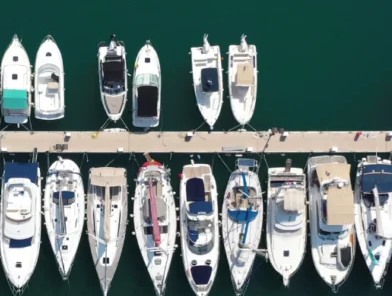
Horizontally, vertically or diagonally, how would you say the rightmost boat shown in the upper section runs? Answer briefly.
vertically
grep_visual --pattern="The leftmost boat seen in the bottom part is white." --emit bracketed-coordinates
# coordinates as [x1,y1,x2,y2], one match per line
[0,148,45,294]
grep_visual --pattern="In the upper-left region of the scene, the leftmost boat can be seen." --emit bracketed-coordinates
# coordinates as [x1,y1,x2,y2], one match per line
[0,33,34,127]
